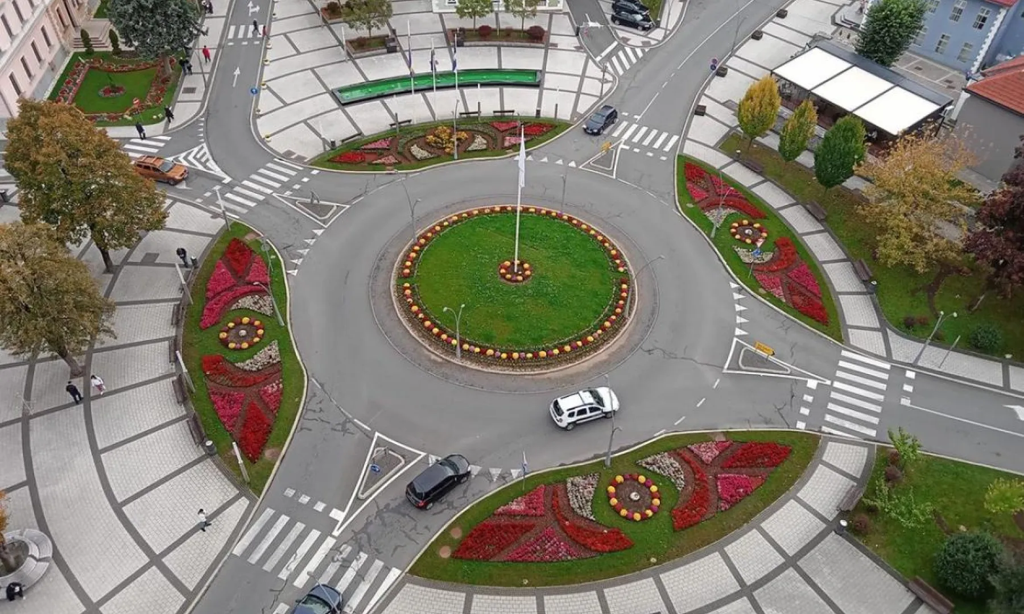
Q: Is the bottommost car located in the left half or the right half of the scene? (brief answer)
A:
left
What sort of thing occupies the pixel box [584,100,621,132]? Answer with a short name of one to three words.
car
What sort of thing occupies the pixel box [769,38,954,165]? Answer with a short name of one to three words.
building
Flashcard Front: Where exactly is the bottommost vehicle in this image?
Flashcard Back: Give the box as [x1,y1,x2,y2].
[295,584,343,614]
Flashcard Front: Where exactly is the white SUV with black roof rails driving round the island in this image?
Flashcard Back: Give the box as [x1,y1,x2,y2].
[552,387,621,430]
